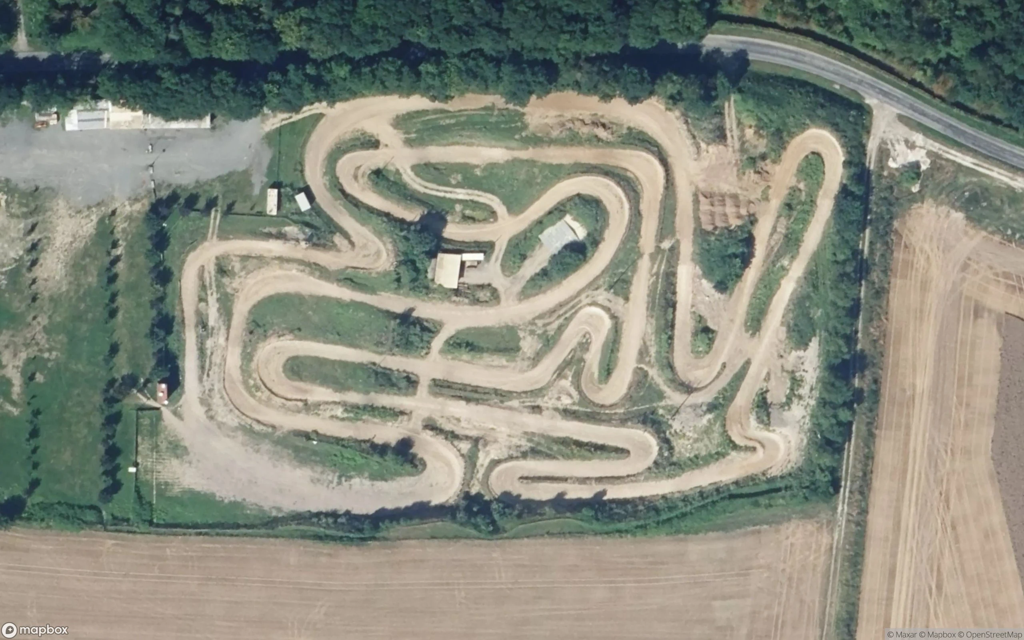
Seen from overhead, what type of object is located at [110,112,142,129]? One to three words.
barn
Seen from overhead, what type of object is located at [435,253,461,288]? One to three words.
building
